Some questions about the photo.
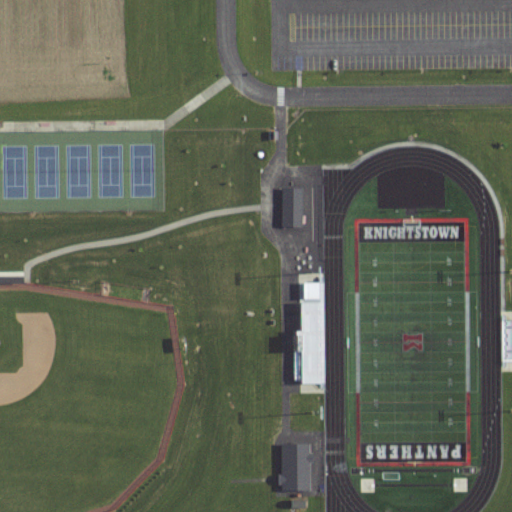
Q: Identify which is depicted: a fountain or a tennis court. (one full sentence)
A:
Looking from above, you can make out a tennis court.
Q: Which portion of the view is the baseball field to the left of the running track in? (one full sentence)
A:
Look in the bottom left portion of the view to spot the baseball field to the left of the running track.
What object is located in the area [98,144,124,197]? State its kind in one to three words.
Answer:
tennis court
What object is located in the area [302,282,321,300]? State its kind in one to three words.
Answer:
building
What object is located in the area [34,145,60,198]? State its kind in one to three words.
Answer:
tennis court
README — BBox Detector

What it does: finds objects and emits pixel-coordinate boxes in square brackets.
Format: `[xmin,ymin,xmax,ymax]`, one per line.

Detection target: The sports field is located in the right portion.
[344,174,481,512]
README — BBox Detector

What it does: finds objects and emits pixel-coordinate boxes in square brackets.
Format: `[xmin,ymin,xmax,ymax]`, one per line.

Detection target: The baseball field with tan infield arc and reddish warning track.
[0,284,186,512]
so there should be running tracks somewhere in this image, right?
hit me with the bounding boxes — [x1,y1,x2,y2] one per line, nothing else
[326,147,499,512]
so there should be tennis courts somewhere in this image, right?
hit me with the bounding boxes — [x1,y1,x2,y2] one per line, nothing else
[2,146,27,198]
[130,144,156,197]
[64,145,90,198]
[98,144,124,197]
[34,145,60,198]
